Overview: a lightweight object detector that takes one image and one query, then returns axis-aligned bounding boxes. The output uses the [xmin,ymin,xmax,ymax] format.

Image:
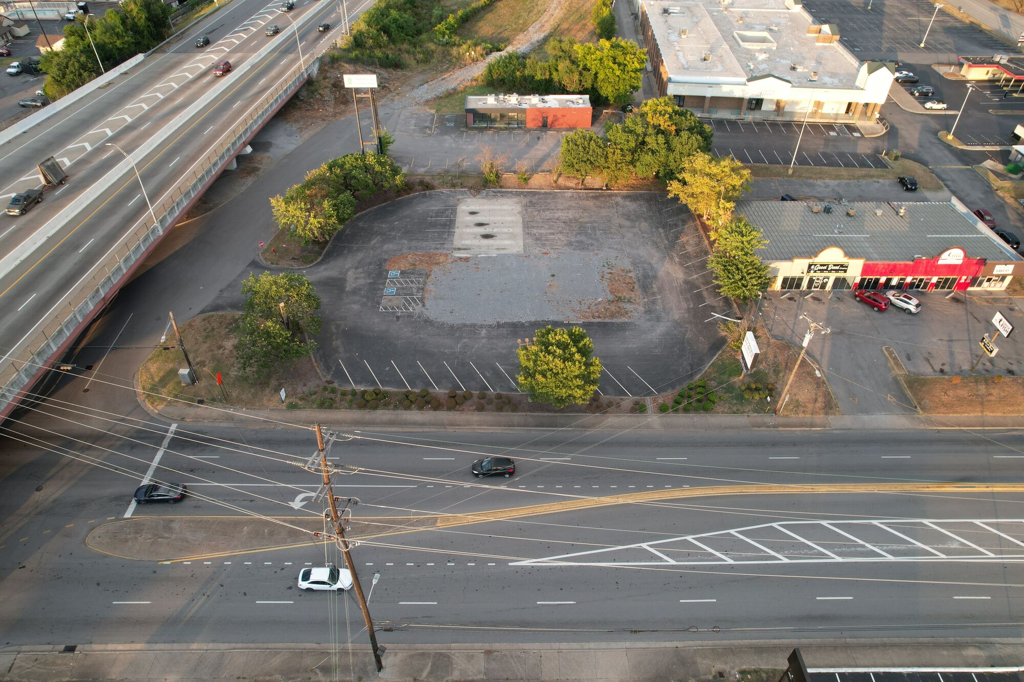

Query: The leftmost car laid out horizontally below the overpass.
[131,481,186,504]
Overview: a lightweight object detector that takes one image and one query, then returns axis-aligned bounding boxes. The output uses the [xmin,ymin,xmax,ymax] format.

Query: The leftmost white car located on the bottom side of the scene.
[295,568,353,595]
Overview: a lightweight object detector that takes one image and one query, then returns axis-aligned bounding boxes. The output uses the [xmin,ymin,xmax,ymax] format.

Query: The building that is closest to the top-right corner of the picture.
[949,51,1024,94]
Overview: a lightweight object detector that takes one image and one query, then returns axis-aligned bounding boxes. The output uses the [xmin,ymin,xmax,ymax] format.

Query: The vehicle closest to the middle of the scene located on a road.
[473,456,514,478]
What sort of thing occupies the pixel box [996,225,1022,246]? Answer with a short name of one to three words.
car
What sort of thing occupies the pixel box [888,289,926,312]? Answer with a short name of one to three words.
car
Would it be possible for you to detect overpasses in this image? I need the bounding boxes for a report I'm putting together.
[0,0,378,440]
